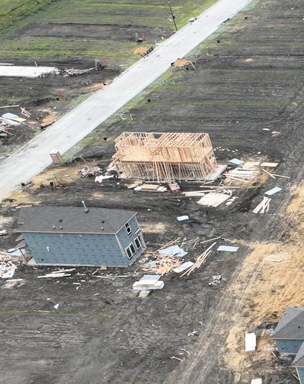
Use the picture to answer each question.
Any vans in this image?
No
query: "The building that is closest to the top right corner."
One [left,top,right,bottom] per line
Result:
[111,131,224,181]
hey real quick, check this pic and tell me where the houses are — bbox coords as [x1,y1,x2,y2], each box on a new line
[111,131,224,181]
[272,306,304,355]
[7,204,148,269]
